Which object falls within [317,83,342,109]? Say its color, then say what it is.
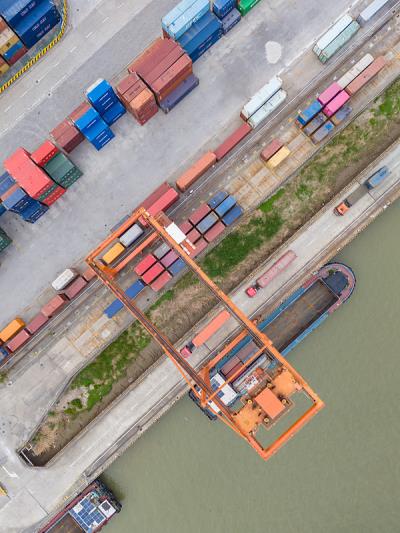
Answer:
pink shipping container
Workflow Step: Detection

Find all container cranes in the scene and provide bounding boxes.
[90,206,324,457]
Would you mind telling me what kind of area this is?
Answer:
port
